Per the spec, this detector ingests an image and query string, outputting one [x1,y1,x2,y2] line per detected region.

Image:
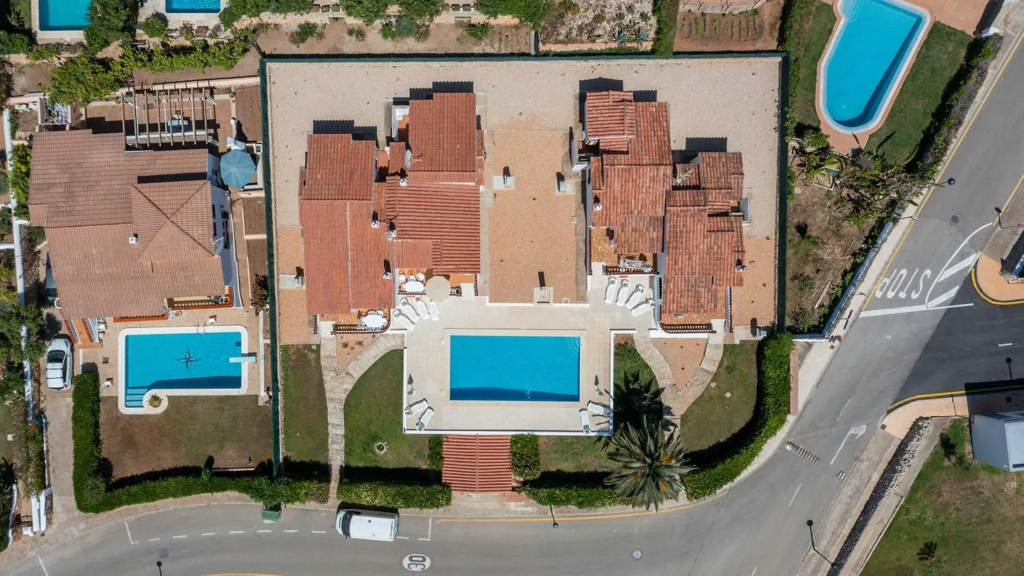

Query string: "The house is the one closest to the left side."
[27,129,239,348]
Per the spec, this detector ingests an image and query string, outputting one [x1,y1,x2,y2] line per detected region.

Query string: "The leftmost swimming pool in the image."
[37,0,93,33]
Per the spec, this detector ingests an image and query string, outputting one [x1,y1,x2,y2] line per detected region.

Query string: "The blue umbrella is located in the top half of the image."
[222,150,259,187]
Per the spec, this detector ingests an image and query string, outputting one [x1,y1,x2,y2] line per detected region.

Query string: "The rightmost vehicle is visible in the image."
[333,505,403,543]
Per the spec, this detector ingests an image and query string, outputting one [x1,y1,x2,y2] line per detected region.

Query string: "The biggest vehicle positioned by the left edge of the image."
[44,335,78,391]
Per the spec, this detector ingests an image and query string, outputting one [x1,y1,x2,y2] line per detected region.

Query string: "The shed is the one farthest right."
[974,410,1024,472]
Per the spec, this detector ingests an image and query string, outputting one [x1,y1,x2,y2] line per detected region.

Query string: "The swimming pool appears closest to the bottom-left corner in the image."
[119,326,248,414]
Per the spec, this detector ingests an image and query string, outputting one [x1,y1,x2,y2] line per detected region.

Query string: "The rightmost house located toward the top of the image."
[570,91,751,343]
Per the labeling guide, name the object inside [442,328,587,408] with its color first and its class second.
blue swimming pool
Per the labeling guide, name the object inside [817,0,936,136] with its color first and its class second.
blue swimming pool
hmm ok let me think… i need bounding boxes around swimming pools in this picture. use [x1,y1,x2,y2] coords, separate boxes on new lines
[817,0,936,136]
[442,328,587,408]
[119,326,248,414]
[37,0,93,33]
[164,0,222,15]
